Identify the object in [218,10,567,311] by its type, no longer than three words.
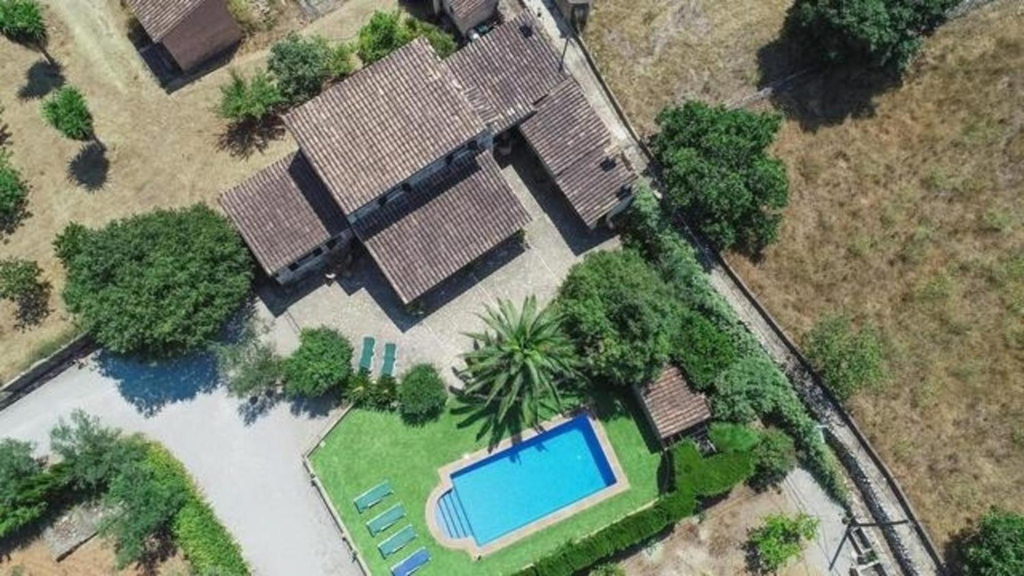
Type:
house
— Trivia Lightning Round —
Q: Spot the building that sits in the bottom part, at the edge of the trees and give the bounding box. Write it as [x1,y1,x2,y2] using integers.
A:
[629,354,711,441]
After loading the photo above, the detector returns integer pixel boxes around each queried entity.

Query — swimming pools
[426,399,630,560]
